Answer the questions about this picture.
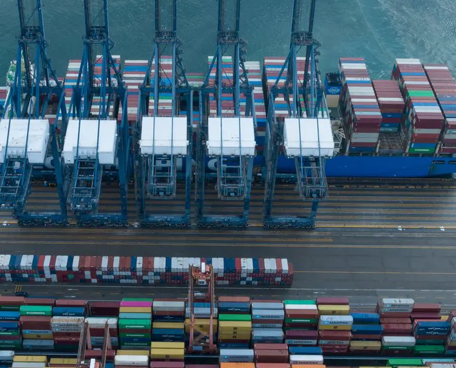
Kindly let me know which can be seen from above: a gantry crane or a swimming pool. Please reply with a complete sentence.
It is a gantry crane that can be seen here.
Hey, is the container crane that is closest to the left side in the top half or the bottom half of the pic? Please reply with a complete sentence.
Seen from above, the container crane that is closest to the left side lies in the top half of the view.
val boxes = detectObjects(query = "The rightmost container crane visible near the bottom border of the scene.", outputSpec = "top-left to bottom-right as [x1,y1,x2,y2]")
[192,257,227,359]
